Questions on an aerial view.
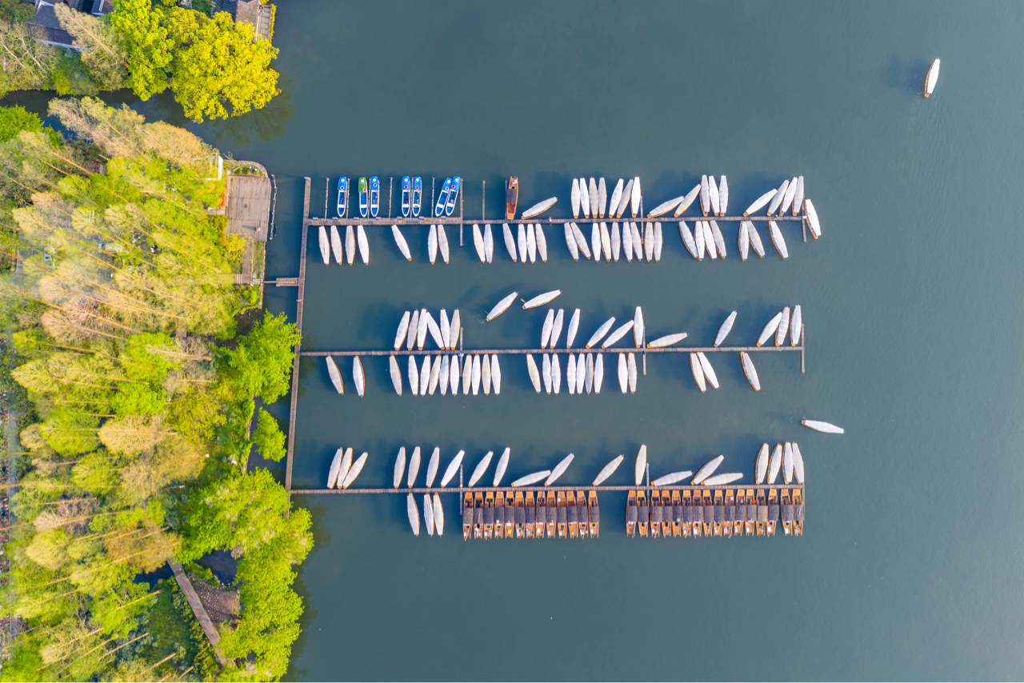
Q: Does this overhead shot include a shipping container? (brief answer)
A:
No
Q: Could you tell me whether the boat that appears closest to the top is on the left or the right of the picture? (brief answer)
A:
right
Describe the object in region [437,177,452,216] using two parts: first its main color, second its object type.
blue boat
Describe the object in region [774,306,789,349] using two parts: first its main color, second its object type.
white boat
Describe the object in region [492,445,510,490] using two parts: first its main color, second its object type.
white boat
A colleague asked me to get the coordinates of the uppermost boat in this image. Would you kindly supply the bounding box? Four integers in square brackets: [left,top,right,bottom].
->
[915,56,940,100]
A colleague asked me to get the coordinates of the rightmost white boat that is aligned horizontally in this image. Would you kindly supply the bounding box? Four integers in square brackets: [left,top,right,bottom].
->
[798,412,845,433]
